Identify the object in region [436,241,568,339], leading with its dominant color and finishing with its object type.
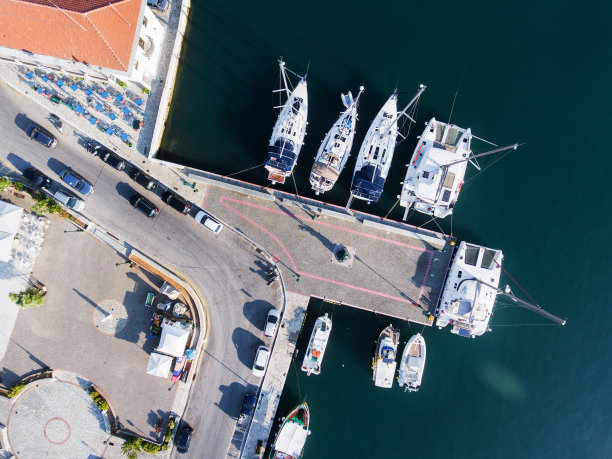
white boat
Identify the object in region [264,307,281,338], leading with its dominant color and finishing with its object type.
white car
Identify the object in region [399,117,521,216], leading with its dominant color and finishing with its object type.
white boat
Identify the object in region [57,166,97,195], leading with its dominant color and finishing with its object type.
blue car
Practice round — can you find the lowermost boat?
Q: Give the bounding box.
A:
[270,400,311,459]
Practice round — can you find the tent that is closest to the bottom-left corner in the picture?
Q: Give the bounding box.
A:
[146,347,176,378]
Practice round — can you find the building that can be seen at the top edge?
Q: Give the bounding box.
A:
[0,0,165,94]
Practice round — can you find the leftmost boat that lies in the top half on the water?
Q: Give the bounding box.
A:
[262,59,311,186]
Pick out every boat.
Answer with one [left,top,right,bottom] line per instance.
[311,85,365,198]
[349,83,428,204]
[302,318,331,380]
[370,326,398,394]
[436,241,568,339]
[262,59,311,186]
[341,92,353,109]
[415,202,437,217]
[397,335,425,394]
[399,117,521,216]
[270,400,311,459]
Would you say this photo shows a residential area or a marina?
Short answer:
marina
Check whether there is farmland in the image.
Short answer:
No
